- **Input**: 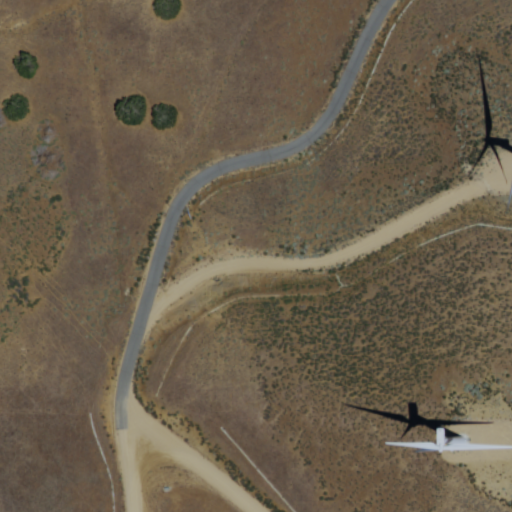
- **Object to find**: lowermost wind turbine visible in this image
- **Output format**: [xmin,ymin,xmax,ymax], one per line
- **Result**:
[384,427,512,453]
